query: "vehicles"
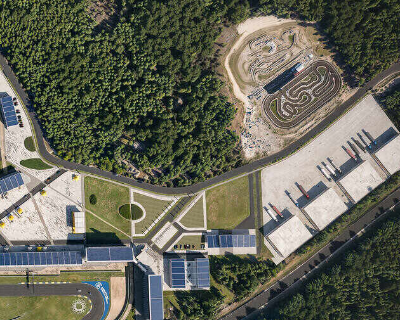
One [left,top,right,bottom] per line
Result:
[296,184,308,199]
[287,194,298,207]
[271,205,282,218]
[320,168,331,181]
[265,208,277,221]
[324,164,336,176]
[360,137,370,149]
[354,140,364,152]
[365,132,376,144]
[330,161,340,172]
[345,148,357,161]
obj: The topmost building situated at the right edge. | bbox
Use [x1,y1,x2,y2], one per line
[367,133,400,176]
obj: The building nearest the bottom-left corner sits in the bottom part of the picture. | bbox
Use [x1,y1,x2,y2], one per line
[0,251,82,268]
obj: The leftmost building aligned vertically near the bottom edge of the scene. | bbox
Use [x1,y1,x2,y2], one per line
[144,275,163,320]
